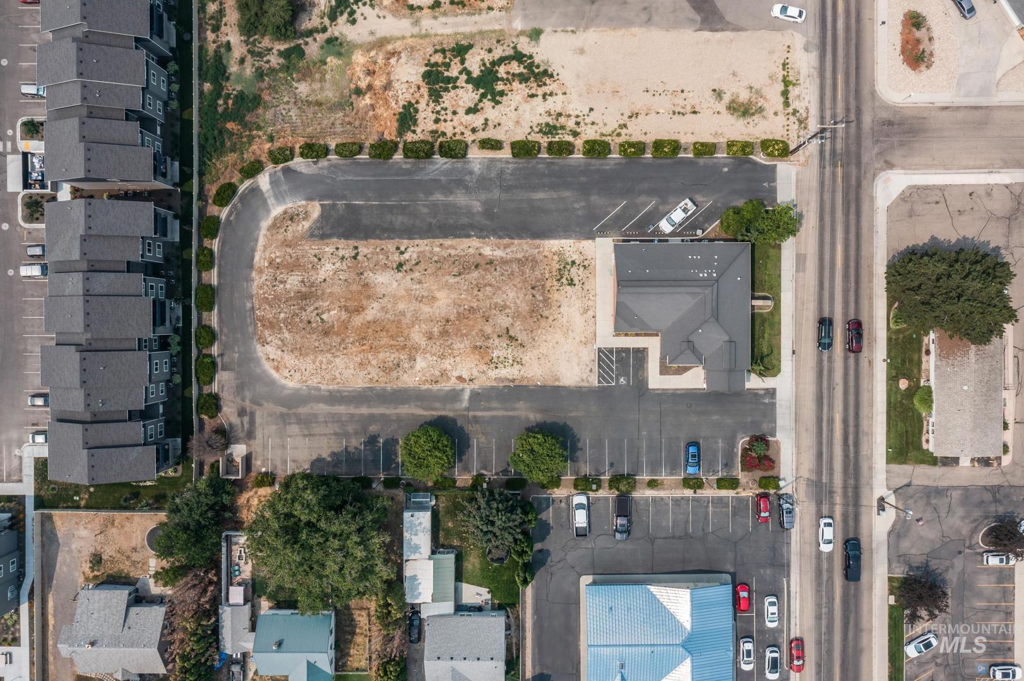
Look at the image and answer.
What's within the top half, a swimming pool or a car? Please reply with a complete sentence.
There is a car within the top half.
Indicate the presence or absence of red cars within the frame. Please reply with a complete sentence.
Yes, this view includes a red car.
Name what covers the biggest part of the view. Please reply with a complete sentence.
The scene is dominated by paved ground.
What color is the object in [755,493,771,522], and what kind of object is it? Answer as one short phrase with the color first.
red car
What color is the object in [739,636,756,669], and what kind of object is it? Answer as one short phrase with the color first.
white car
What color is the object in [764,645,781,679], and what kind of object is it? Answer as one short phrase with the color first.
white car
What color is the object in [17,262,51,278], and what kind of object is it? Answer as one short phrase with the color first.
white vehicle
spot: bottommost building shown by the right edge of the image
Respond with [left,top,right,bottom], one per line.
[929,332,1003,458]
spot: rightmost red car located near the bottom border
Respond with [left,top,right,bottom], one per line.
[789,637,806,671]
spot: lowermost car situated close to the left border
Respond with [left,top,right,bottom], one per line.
[29,431,47,446]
